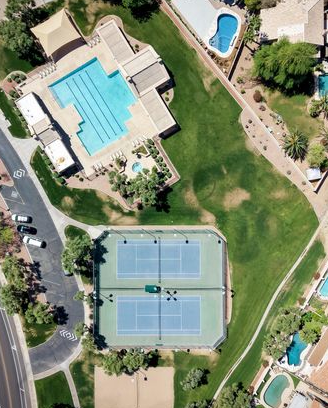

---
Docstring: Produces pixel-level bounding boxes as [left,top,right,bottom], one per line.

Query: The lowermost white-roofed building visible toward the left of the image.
[44,141,76,173]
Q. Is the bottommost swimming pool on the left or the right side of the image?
right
